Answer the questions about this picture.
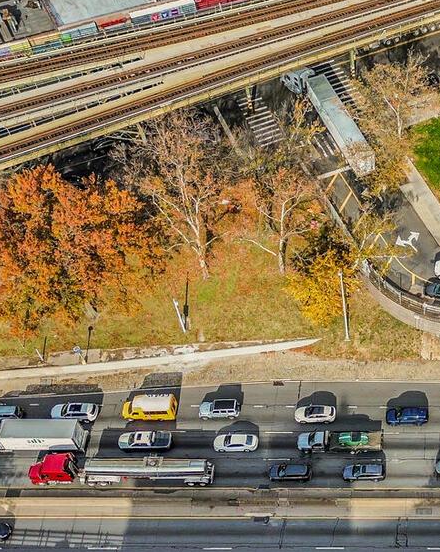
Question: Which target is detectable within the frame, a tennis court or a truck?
truck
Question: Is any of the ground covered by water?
No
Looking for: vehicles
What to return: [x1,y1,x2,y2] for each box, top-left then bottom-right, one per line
[387,404,428,425]
[423,280,440,298]
[0,403,24,421]
[281,73,375,178]
[0,416,90,453]
[338,426,373,446]
[0,522,15,542]
[214,432,259,452]
[198,397,241,418]
[121,394,180,421]
[295,426,384,455]
[51,400,99,421]
[117,428,174,451]
[268,461,313,482]
[296,403,336,423]
[28,454,217,487]
[341,461,385,482]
